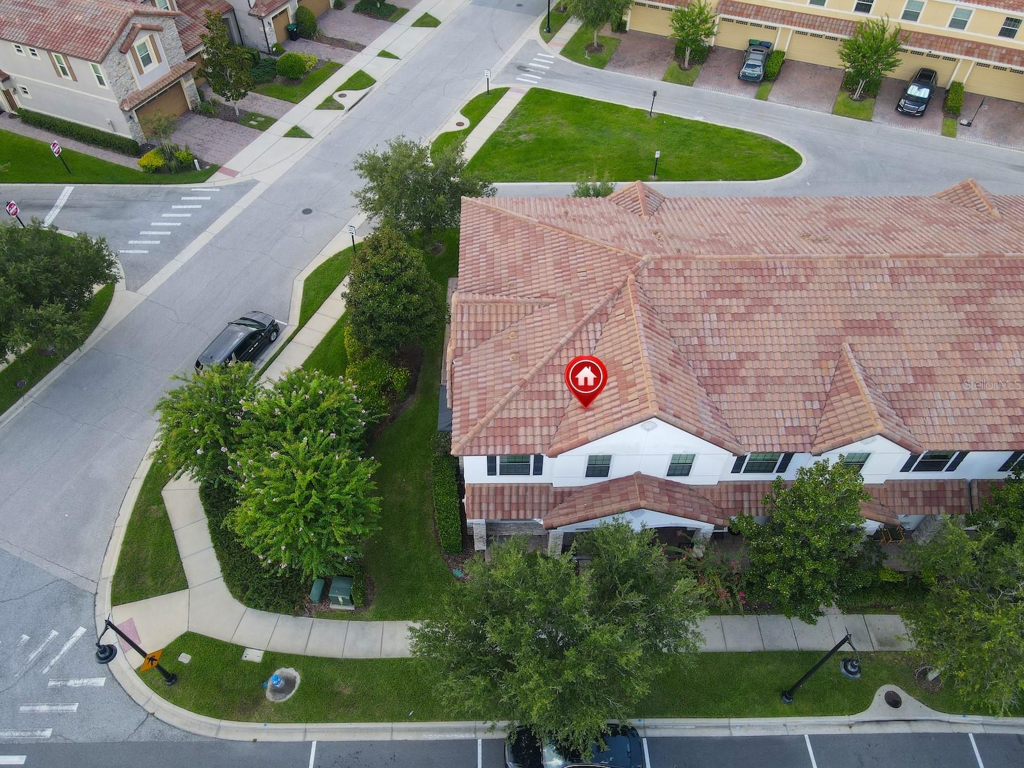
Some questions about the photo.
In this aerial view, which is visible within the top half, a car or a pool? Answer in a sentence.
There is a car within the top half.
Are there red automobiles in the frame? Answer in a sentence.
No, there's no red automobile here.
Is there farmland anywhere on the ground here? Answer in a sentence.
No, the picture contains no farmland.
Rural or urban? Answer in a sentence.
From above, the setting appears urban.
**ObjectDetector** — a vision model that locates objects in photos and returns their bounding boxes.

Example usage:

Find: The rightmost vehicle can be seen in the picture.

[903,69,936,115]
